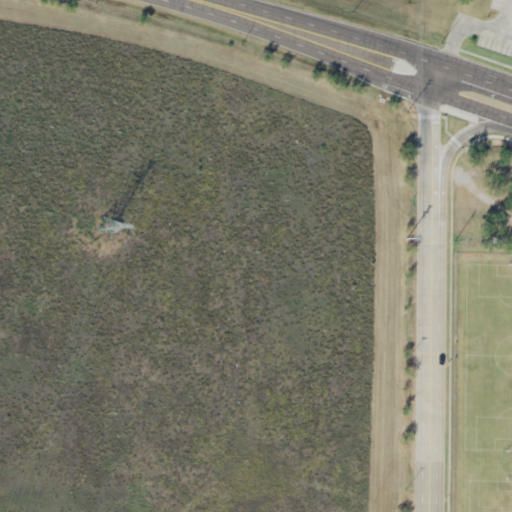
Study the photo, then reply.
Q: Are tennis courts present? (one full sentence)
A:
No, no tennis court can be seen from above.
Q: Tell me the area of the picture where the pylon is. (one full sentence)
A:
You can find the pylon in the left area of the picture.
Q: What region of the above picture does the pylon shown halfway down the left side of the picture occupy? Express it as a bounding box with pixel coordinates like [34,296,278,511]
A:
[98,216,136,236]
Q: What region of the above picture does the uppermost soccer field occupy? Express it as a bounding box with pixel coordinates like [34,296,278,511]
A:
[462,262,512,454]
